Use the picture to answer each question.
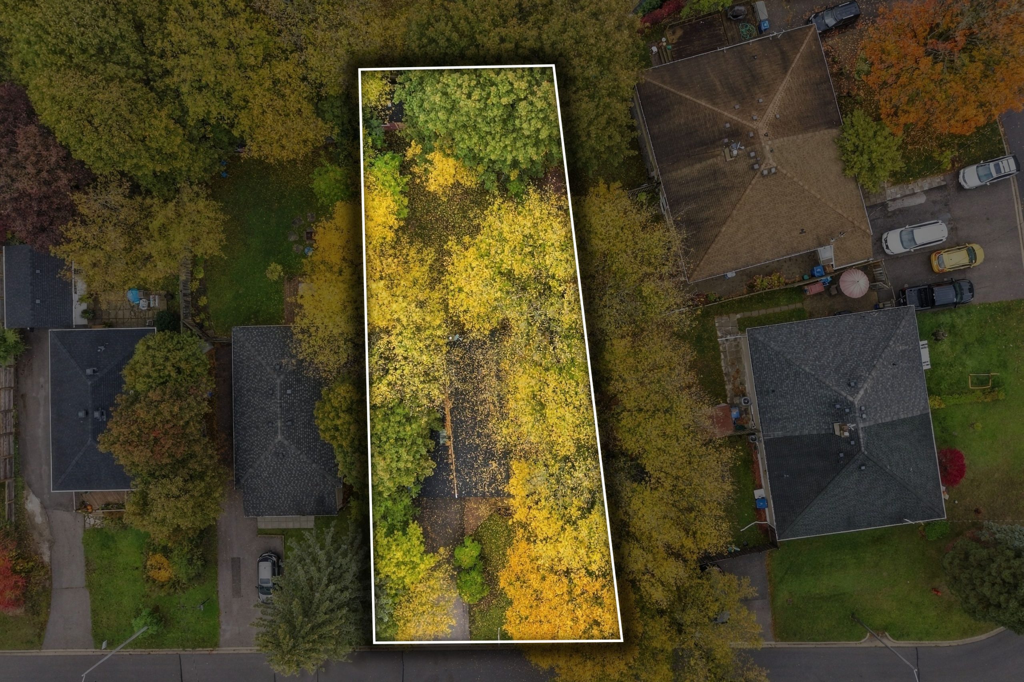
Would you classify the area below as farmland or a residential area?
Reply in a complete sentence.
The picture captures a residential area.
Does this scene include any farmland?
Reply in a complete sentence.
No, the picture contains no farmland.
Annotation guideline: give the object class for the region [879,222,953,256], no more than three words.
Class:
car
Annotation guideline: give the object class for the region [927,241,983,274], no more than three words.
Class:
car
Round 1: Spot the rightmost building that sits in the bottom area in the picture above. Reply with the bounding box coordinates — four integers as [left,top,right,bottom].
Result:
[737,303,948,543]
